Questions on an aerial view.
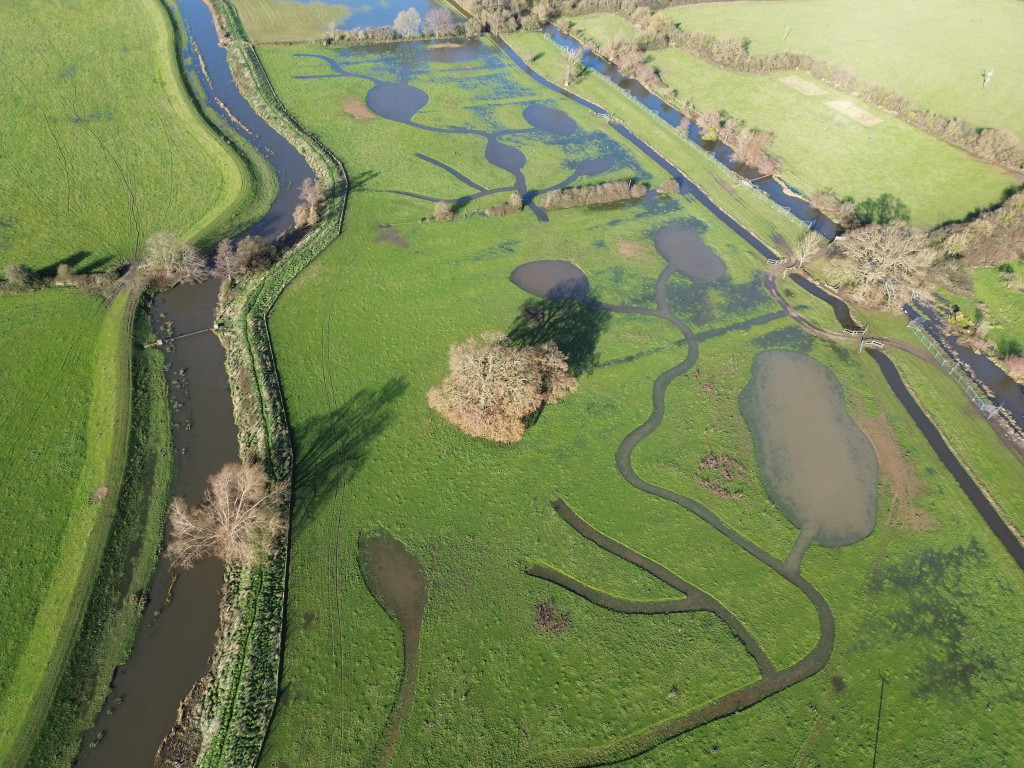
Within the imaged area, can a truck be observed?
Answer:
No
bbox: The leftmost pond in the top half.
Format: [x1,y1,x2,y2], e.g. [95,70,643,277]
[365,82,429,122]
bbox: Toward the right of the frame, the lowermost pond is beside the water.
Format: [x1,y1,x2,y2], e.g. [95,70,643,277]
[739,351,879,546]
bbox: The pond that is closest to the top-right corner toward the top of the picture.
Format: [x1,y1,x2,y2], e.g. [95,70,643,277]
[656,230,726,283]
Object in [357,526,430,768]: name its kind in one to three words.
pond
